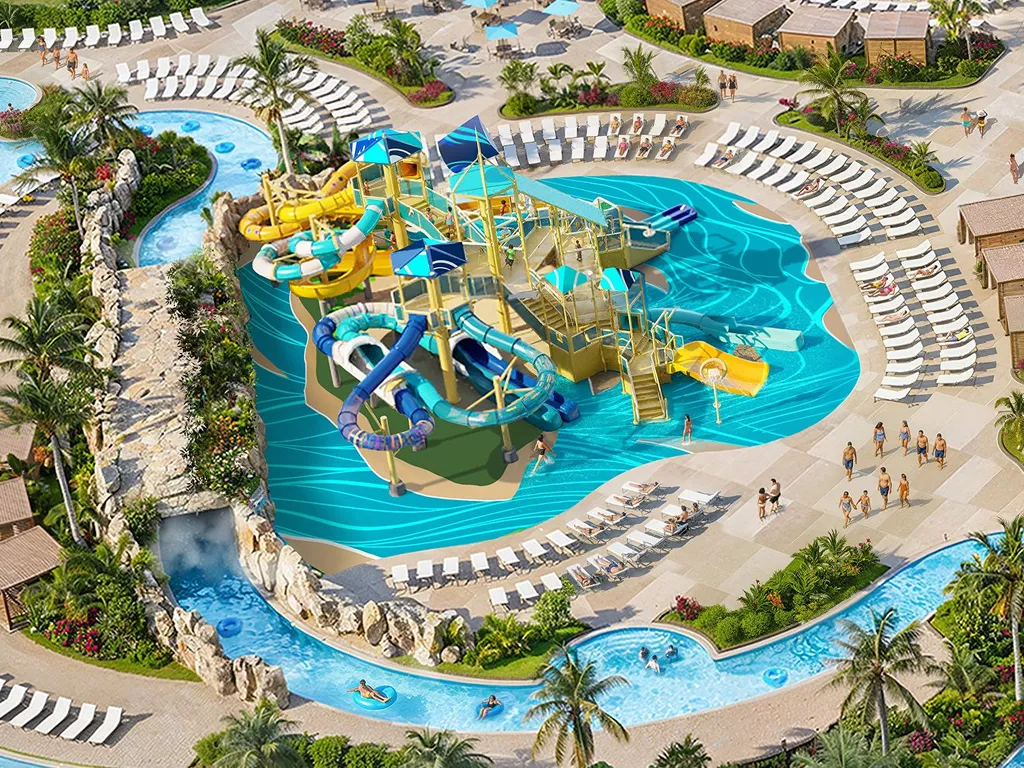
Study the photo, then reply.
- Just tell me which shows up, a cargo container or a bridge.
bridge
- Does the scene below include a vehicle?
No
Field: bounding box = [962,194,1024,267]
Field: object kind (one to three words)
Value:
shed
